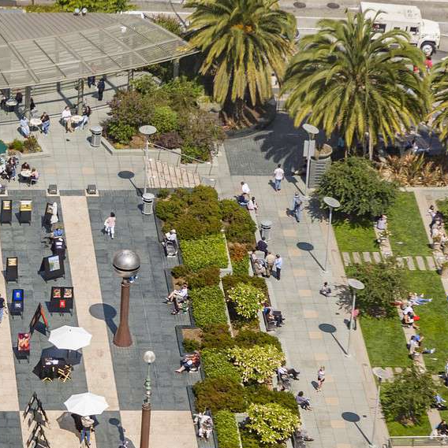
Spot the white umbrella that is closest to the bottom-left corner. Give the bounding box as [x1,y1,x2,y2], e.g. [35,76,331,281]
[64,394,109,425]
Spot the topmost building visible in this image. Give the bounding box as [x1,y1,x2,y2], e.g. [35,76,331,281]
[0,6,197,120]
